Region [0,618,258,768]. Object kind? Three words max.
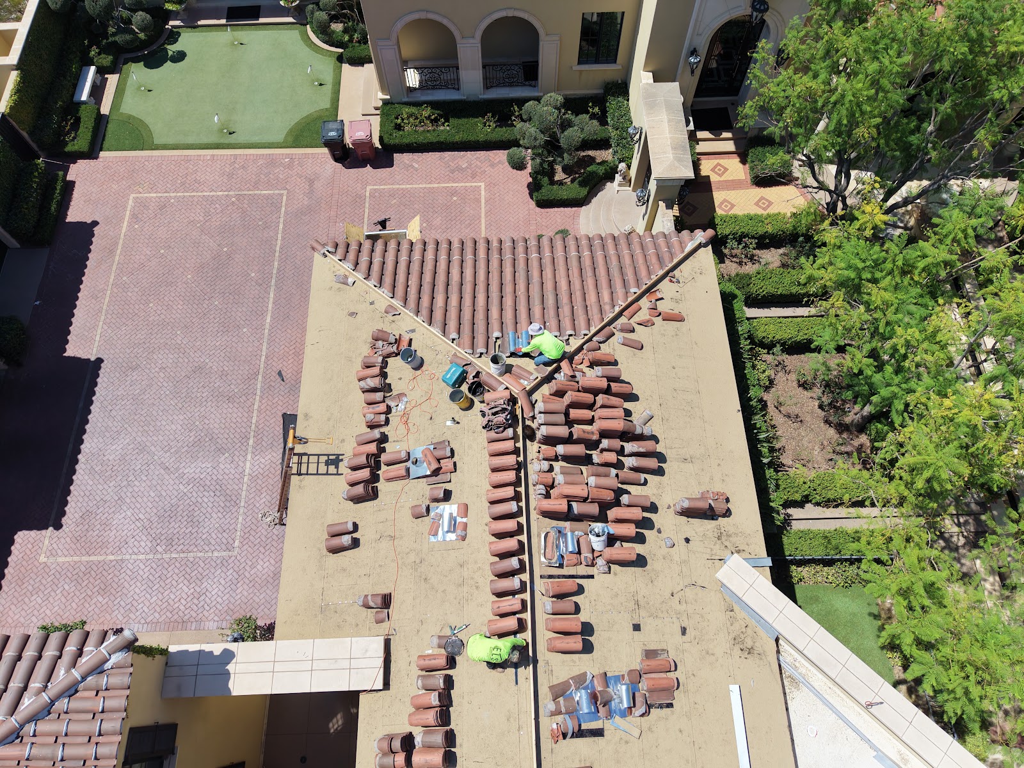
house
